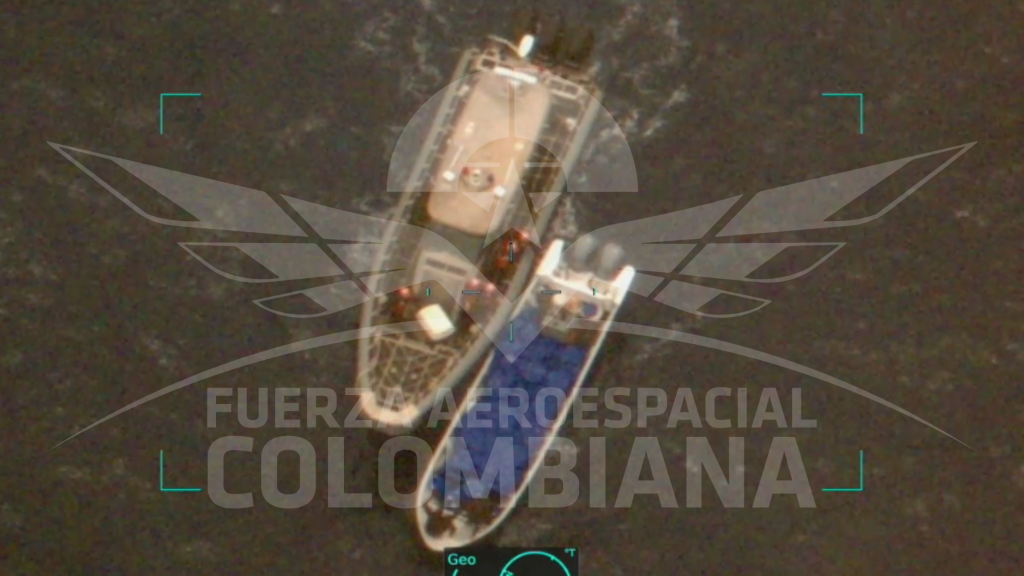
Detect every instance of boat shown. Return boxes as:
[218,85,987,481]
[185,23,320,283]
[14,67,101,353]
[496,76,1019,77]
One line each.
[357,22,606,425]
[418,234,637,549]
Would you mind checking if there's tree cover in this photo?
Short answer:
No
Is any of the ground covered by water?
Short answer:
Yes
